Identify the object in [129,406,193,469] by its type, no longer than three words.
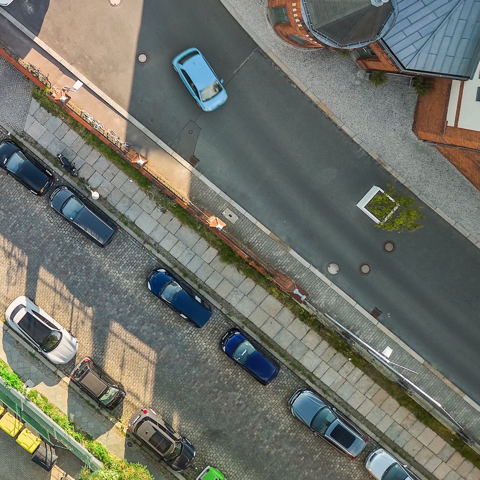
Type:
car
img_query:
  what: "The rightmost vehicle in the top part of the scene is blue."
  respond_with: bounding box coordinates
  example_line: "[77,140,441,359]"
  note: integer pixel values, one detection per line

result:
[175,47,222,110]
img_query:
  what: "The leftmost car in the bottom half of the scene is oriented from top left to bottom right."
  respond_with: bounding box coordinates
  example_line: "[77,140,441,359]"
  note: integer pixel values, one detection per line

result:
[7,297,75,359]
